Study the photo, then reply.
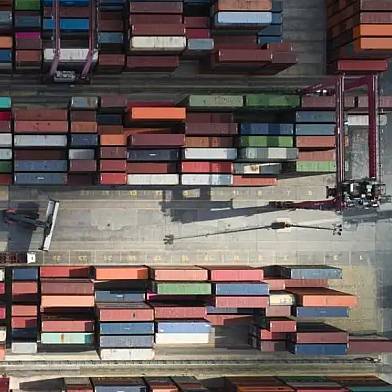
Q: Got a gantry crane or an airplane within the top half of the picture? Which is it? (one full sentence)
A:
What appears within the top half of the picture is a gantry crane.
